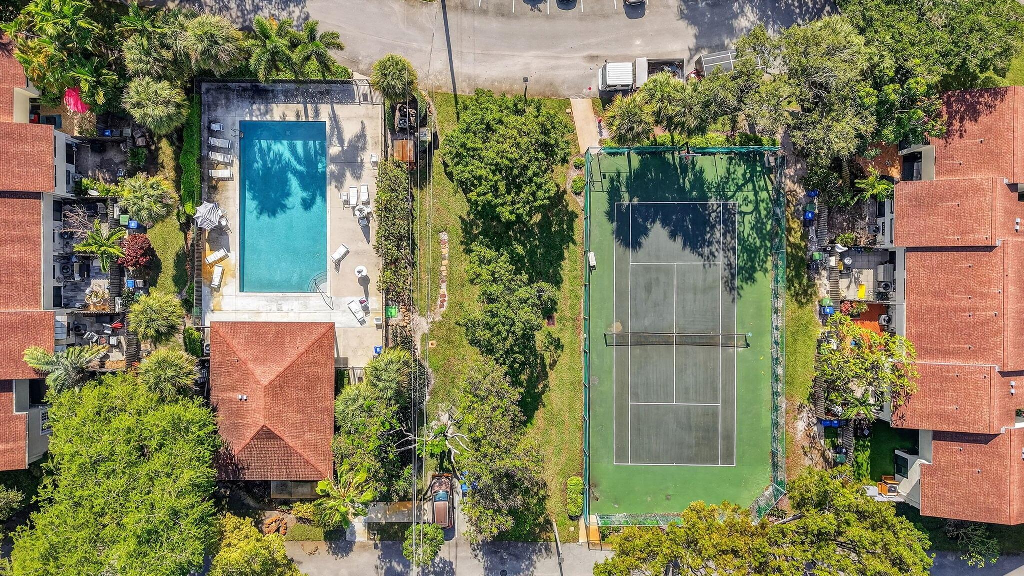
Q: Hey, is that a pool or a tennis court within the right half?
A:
tennis court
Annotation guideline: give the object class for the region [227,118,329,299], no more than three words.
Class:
swimming pool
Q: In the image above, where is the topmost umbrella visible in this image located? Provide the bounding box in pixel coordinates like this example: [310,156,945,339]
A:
[195,201,226,232]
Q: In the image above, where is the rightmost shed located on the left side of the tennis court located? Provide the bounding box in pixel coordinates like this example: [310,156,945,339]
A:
[394,139,417,165]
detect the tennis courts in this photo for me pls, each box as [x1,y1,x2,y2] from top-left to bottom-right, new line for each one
[589,153,771,515]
